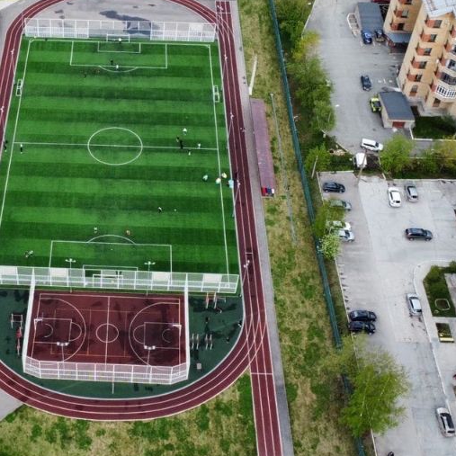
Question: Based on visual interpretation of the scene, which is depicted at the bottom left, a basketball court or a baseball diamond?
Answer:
basketball court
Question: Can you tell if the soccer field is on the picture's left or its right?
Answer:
left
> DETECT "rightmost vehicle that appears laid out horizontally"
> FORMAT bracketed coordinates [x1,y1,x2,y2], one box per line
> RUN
[403,227,432,240]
